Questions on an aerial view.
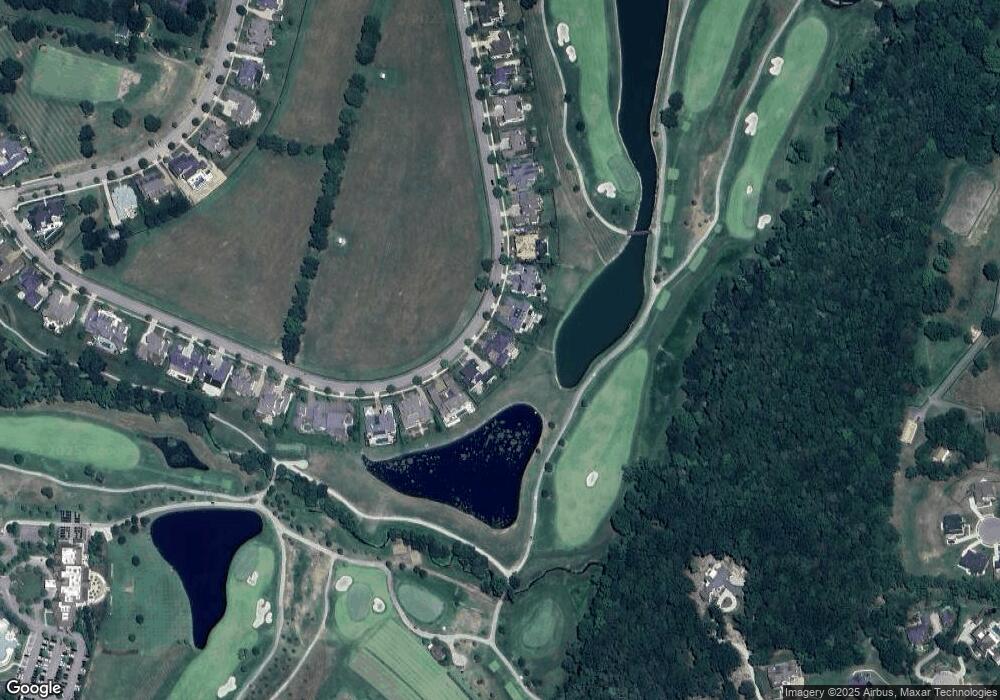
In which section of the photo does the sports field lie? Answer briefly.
top left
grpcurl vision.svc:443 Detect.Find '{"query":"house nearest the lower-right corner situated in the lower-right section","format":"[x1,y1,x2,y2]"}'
[967,620,1000,658]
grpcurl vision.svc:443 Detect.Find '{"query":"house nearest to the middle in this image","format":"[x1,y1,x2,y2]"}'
[479,330,517,369]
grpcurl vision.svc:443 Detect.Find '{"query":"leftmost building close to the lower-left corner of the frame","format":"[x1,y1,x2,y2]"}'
[45,541,105,634]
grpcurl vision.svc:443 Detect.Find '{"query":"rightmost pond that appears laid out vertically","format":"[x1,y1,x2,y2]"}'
[554,0,669,389]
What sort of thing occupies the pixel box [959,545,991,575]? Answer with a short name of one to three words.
house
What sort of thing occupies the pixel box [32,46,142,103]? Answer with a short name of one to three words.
sports field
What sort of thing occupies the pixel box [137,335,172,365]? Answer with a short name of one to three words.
house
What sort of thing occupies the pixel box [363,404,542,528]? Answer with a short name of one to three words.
pond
